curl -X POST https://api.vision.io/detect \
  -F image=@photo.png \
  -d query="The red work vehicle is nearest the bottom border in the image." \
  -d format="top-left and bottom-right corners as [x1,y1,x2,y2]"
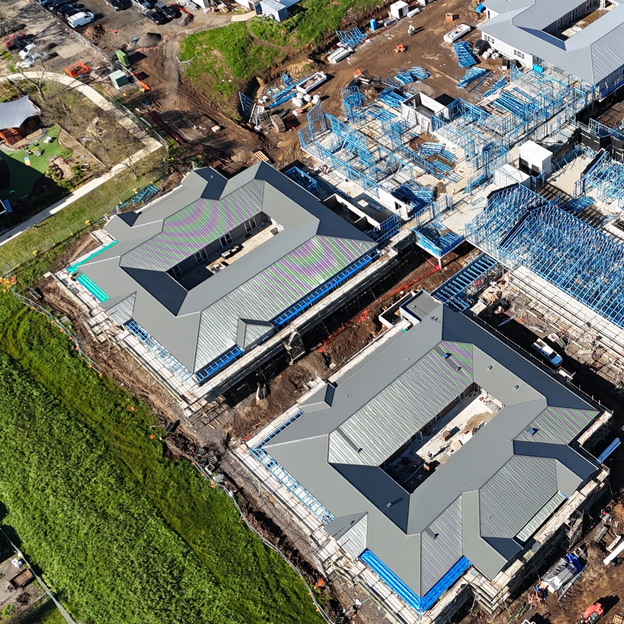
[572,588,612,624]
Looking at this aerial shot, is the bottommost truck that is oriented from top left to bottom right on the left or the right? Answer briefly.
right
